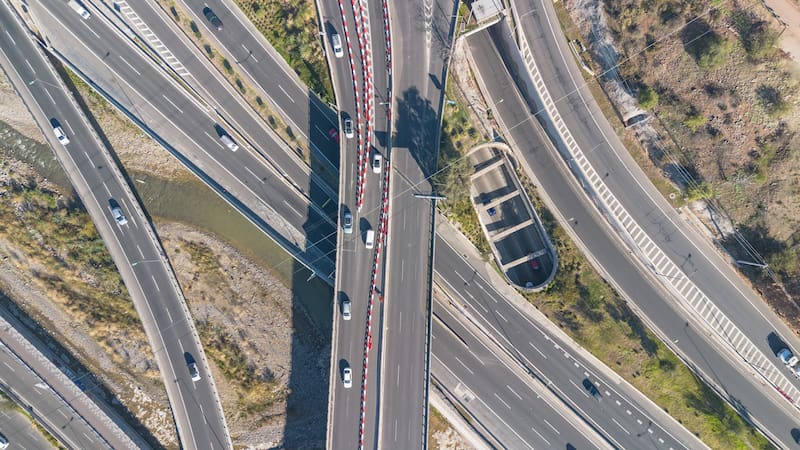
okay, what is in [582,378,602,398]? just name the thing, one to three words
car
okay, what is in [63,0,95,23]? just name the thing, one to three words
truck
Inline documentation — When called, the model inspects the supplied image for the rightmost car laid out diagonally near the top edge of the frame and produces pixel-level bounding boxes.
[204,8,222,29]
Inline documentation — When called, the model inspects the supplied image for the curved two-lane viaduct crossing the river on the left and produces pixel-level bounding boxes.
[0,0,236,450]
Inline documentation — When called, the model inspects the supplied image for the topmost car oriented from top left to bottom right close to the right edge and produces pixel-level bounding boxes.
[777,347,798,368]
